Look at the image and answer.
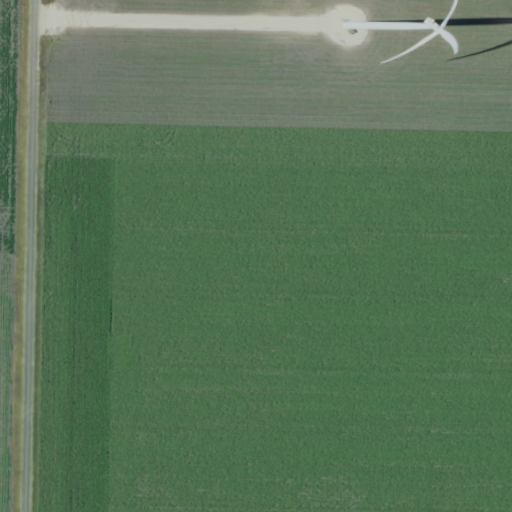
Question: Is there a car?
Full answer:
No, the scene contains no car.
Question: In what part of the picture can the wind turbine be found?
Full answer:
The wind turbine sits in the top right section of the image.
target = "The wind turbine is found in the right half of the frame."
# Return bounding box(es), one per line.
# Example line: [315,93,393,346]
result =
[340,0,457,62]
